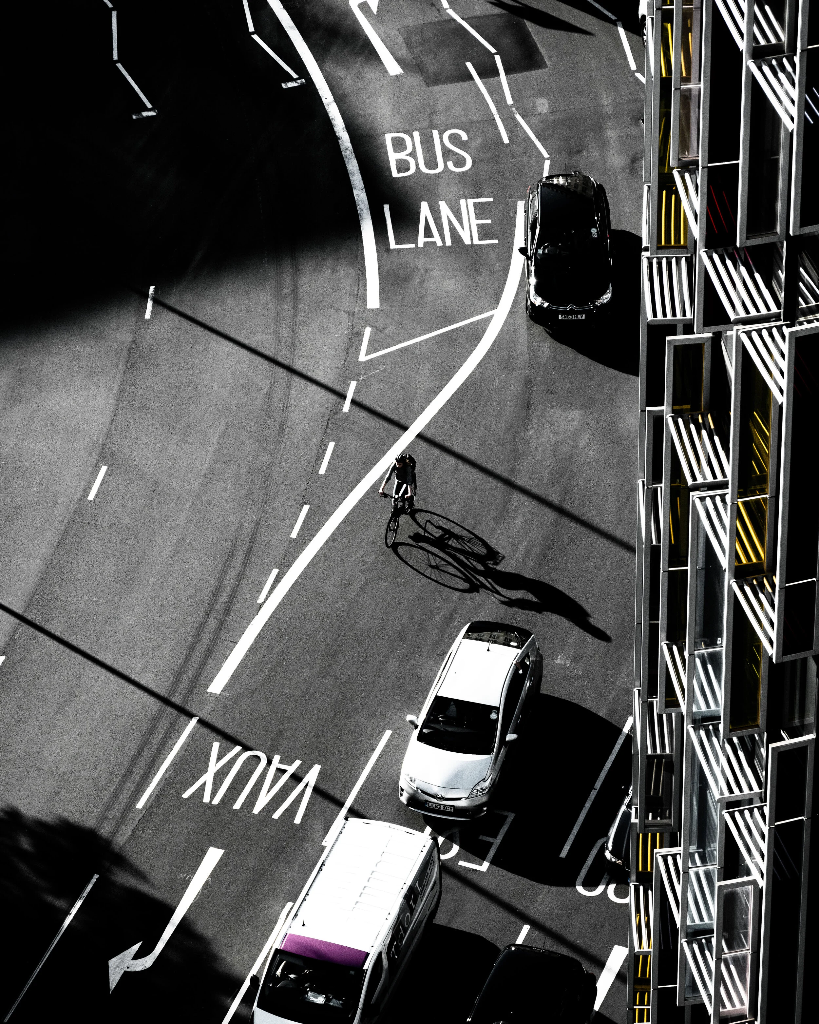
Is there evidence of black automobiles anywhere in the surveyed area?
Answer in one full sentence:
Yes, you can see a black automobile in this photo.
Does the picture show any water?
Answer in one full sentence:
No, no water is visible.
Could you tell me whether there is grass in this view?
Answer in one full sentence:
No, no grass is visible.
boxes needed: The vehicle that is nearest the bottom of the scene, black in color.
[462,932,599,1024]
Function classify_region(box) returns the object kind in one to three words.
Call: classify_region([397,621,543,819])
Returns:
car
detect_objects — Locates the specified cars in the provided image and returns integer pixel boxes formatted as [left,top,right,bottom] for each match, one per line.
[515,158,624,329]
[462,932,599,1024]
[397,621,543,819]
[624,0,646,42]
[603,764,633,886]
